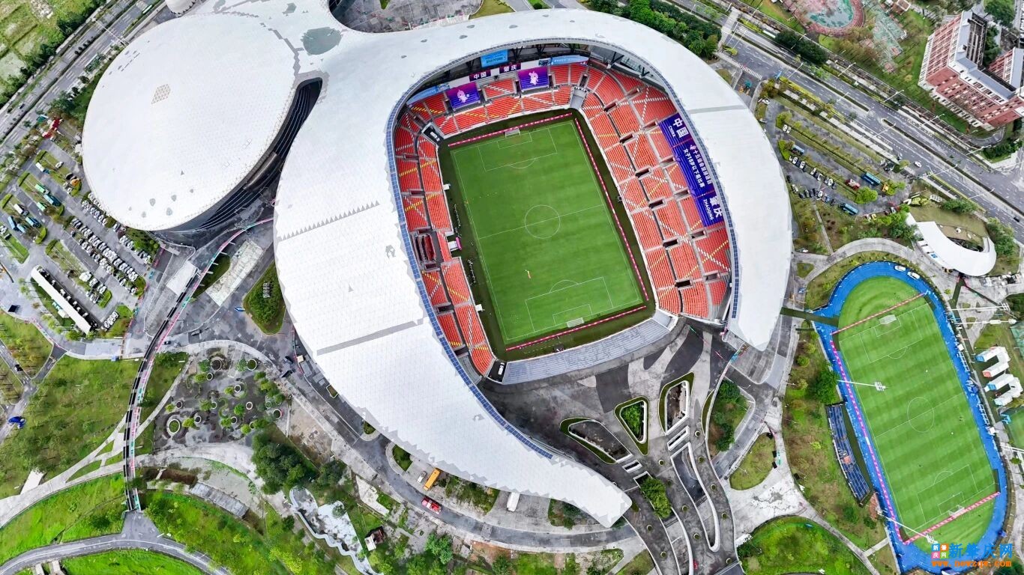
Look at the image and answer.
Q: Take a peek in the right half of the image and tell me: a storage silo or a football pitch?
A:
football pitch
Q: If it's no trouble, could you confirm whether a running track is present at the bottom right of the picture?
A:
Yes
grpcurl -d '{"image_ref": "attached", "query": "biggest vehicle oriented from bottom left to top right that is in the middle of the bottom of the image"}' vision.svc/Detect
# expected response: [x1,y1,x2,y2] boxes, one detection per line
[423,467,442,493]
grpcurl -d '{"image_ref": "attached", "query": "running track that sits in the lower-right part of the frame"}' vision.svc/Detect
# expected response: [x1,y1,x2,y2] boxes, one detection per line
[812,261,1008,575]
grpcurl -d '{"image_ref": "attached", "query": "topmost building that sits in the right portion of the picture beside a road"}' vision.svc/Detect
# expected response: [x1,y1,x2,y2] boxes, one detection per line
[913,10,1024,122]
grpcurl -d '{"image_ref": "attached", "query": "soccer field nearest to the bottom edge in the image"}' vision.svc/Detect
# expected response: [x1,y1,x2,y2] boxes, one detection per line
[835,275,995,553]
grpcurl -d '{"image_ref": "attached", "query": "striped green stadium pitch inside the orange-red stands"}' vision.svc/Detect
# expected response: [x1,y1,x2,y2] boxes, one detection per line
[446,116,645,347]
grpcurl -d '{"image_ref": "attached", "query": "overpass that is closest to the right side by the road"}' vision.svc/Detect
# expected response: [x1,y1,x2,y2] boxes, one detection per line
[714,7,764,70]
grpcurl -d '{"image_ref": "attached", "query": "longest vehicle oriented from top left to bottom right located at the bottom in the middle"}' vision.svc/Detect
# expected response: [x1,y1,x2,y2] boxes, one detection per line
[421,496,441,513]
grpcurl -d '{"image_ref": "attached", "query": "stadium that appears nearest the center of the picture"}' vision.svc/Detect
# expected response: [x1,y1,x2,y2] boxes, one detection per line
[196,0,793,527]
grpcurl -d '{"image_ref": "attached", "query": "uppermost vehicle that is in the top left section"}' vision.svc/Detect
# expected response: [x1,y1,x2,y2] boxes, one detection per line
[135,0,159,20]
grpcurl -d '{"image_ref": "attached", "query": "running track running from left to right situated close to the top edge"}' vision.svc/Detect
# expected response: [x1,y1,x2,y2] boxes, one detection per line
[784,0,865,36]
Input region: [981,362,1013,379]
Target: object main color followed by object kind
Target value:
white tent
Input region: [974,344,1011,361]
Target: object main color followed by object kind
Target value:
white tent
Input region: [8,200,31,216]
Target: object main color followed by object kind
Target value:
white vehicle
